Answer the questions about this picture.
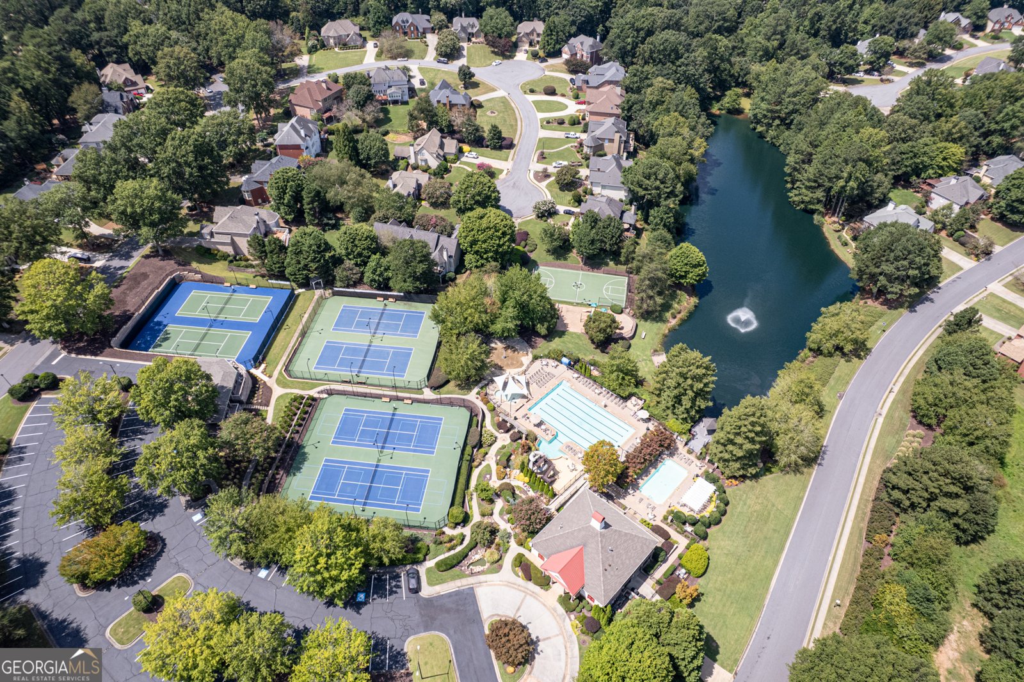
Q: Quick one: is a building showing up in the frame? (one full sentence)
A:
Yes, a building is visible in the scene.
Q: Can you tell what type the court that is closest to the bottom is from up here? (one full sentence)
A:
It looks like the court that is closest to the bottom is a tennis court.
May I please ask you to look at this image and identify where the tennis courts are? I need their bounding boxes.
[305,395,469,464]
[126,318,273,369]
[278,449,456,529]
[311,296,440,344]
[288,334,431,388]
[149,281,291,327]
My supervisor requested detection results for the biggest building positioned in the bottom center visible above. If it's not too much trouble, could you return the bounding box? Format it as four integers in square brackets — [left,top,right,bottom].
[531,489,662,607]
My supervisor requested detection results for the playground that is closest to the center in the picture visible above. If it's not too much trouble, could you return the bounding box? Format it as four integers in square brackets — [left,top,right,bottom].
[490,347,528,369]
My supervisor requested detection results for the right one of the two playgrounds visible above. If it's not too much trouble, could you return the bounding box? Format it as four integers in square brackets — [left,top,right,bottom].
[544,302,636,338]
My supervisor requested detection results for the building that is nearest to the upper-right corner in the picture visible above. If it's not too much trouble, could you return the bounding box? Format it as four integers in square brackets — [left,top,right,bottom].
[972,5,1024,34]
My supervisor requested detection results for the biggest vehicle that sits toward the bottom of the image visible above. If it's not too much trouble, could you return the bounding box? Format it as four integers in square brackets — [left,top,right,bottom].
[406,569,419,593]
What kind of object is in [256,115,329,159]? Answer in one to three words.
house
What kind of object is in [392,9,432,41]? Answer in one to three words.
house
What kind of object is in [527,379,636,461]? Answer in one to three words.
swimming pool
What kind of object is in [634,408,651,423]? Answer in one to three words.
umbrella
